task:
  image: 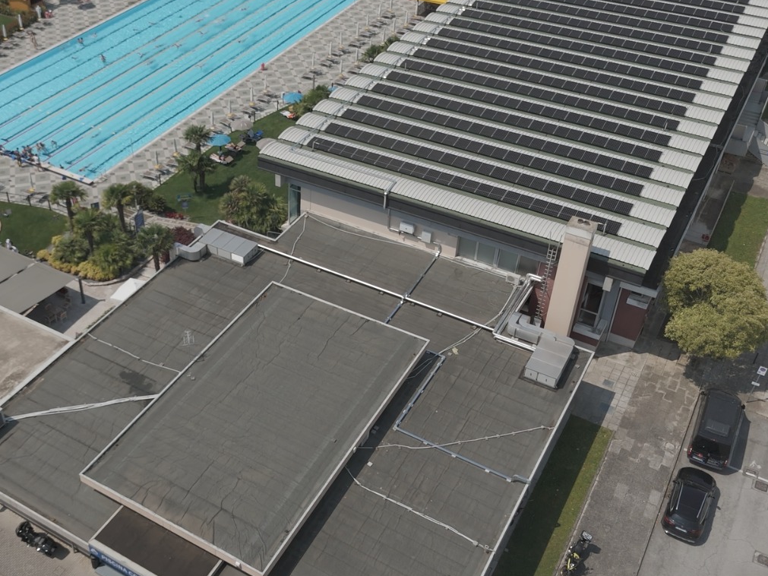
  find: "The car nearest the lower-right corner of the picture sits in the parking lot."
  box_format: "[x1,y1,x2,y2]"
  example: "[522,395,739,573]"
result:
[658,466,721,547]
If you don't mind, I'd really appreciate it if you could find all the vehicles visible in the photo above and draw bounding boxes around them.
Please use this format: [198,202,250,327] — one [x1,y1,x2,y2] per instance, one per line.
[567,531,594,576]
[686,399,747,479]
[19,519,55,552]
[658,466,721,547]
